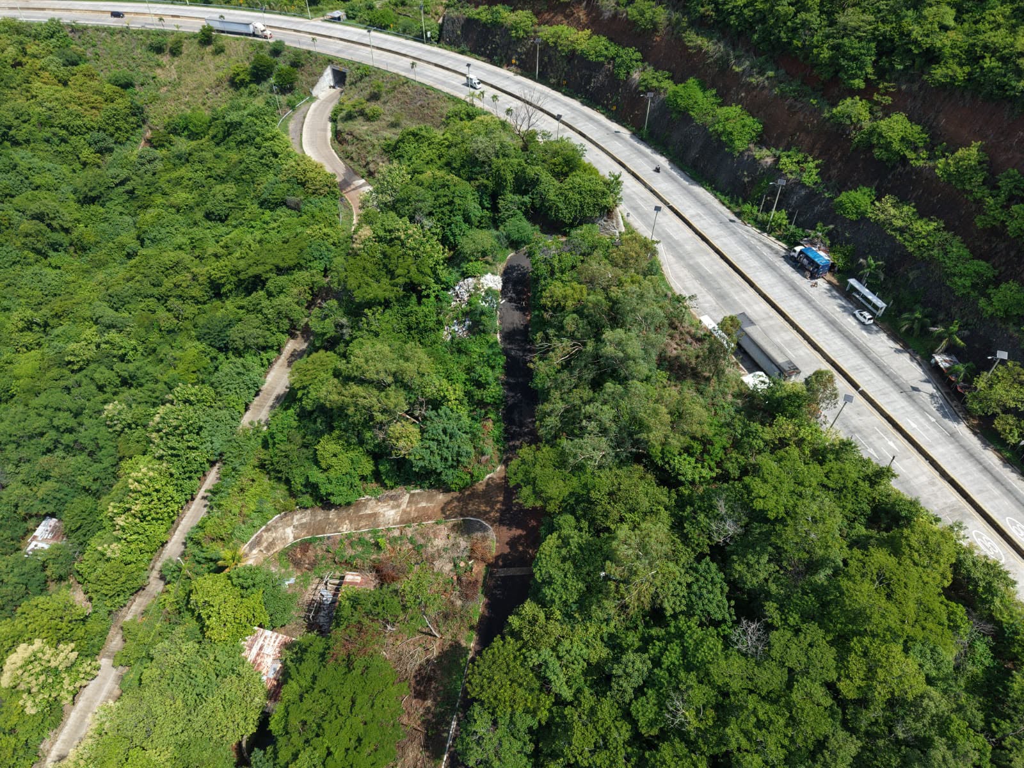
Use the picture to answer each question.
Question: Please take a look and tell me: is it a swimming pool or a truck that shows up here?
truck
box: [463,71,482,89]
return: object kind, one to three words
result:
vehicle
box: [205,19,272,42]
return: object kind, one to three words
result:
truck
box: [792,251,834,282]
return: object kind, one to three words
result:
truck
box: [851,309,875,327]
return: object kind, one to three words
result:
car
